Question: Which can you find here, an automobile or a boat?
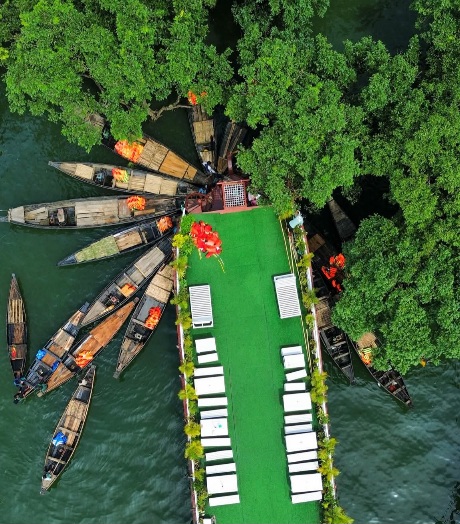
boat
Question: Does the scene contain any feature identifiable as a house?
No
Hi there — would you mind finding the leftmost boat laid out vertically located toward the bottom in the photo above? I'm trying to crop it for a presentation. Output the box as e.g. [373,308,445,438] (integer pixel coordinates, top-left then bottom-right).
[6,271,29,388]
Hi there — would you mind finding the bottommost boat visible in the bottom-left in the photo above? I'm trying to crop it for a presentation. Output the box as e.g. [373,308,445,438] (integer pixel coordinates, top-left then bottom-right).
[37,363,98,497]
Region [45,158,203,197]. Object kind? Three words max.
boat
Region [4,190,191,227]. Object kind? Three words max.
boat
